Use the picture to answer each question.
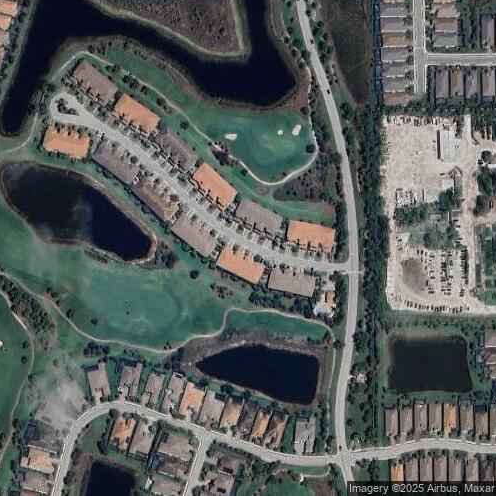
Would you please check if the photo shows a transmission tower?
No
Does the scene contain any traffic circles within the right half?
No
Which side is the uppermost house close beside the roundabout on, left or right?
left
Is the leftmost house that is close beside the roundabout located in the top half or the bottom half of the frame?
top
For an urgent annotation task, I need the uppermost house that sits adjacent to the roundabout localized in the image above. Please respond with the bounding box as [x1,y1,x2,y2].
[71,61,120,103]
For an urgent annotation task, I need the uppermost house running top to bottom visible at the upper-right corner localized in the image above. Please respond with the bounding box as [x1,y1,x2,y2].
[481,15,495,47]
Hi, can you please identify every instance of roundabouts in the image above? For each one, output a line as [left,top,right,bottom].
[51,93,105,132]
